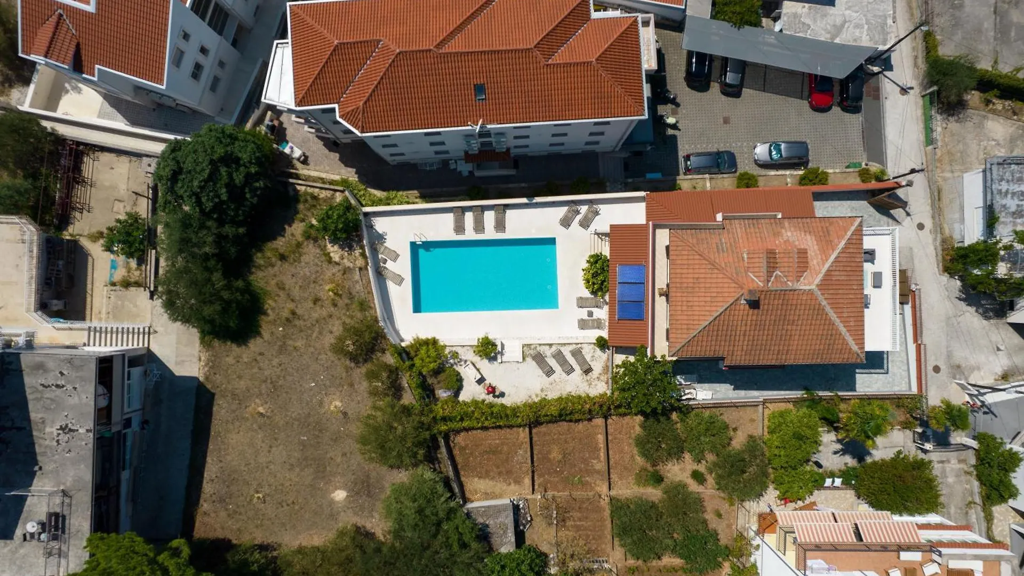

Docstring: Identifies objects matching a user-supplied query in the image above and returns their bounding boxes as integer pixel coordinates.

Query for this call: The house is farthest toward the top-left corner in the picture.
[14,0,245,110]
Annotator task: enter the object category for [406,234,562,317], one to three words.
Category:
swimming pool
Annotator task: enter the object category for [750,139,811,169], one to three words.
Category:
car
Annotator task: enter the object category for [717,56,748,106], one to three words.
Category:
car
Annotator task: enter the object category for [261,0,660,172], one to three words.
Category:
building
